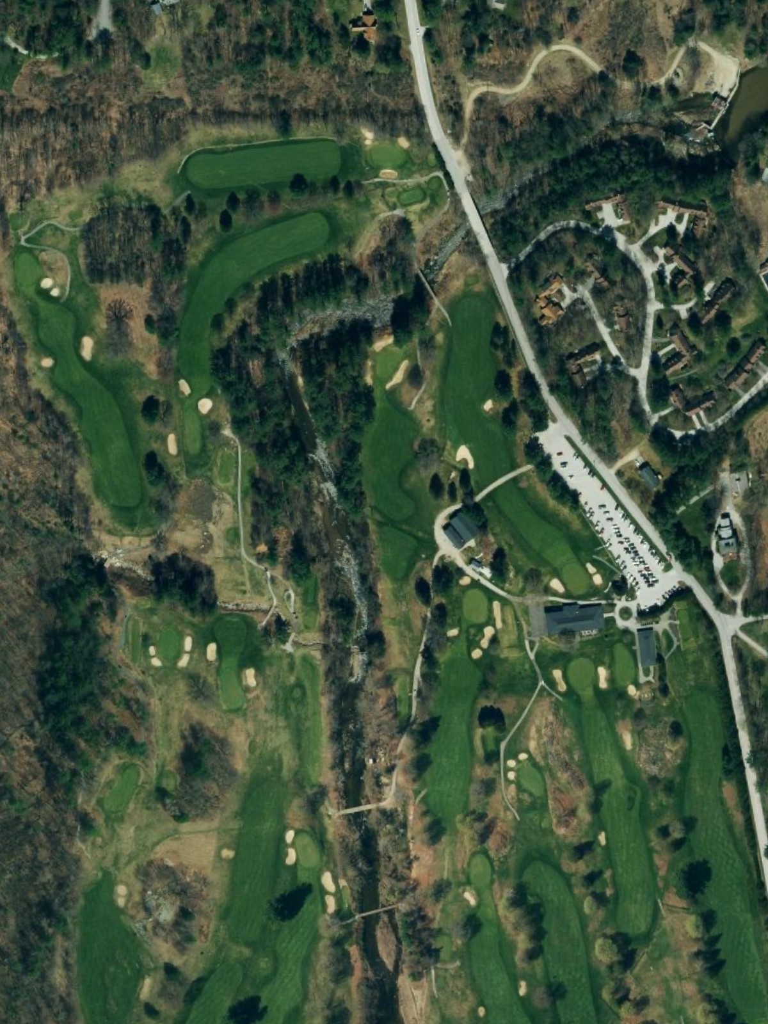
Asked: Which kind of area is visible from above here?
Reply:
golf course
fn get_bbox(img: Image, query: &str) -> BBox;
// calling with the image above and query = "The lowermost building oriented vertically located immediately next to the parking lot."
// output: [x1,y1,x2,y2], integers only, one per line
[637,627,659,667]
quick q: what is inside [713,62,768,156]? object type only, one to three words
pond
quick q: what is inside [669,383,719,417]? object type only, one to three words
house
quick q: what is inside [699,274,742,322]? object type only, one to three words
house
